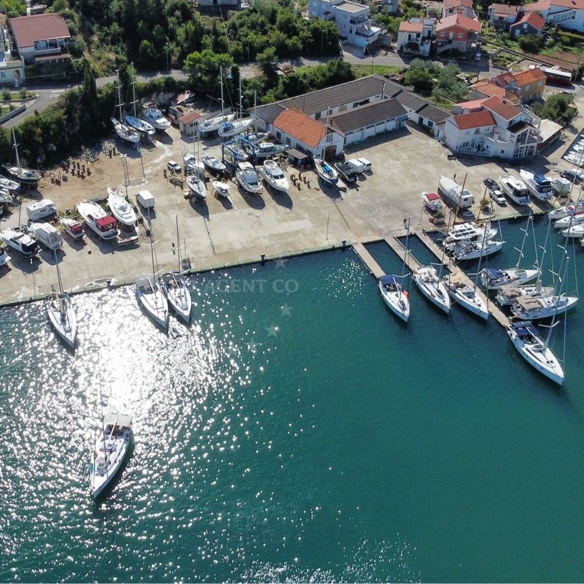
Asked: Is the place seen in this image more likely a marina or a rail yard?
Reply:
marina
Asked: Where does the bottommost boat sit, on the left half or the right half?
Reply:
left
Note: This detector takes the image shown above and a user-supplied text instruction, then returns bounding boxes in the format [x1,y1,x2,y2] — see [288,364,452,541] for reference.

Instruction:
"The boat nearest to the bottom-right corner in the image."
[507,273,565,381]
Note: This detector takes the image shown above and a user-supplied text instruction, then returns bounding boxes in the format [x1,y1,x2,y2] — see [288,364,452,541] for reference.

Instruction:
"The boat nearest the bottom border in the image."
[91,356,136,497]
